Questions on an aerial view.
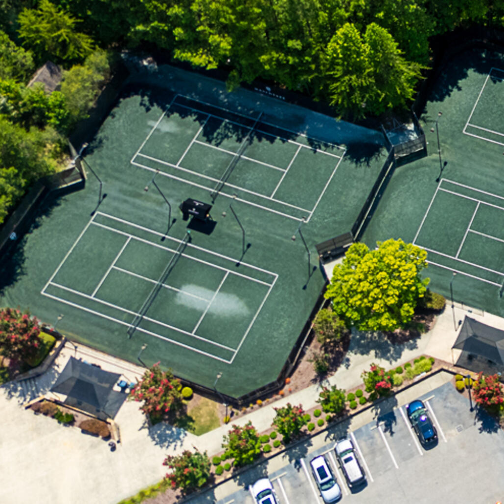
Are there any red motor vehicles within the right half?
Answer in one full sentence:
No, there is no red motor vehicle within the right half.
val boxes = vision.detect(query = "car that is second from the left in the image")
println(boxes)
[311,457,342,504]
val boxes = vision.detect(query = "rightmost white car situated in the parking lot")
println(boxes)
[338,438,368,487]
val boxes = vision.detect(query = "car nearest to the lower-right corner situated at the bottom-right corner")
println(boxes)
[410,401,438,448]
